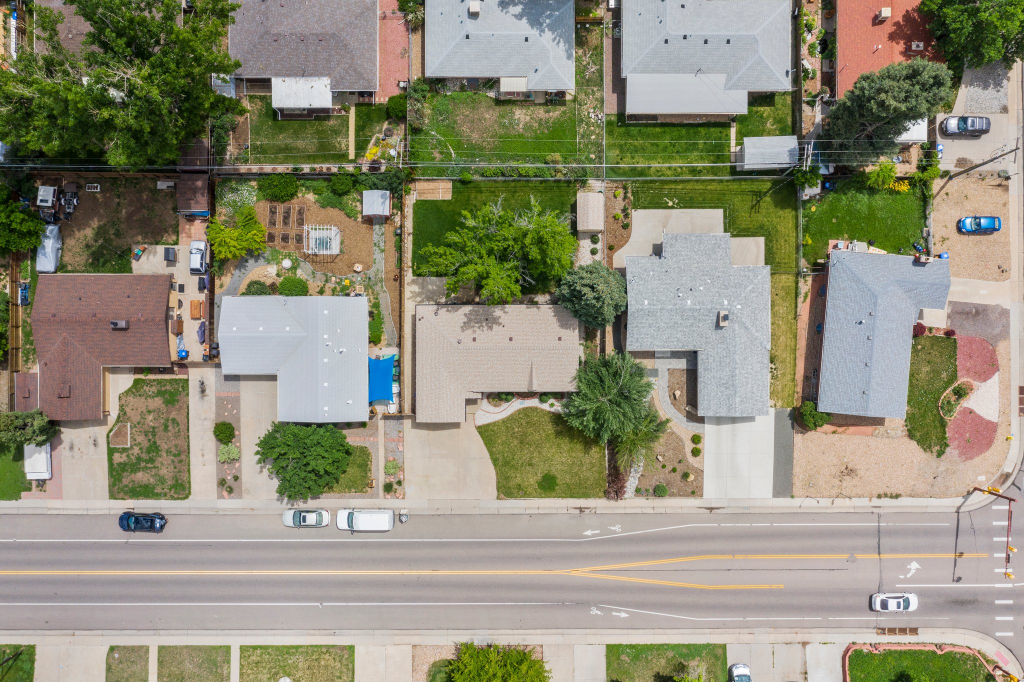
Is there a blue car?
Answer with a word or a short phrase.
Yes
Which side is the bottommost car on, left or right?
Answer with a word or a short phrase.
right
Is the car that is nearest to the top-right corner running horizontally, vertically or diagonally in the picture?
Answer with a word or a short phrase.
horizontally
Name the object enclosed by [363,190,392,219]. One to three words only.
shed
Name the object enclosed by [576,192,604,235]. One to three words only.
shed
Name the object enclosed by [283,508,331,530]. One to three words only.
car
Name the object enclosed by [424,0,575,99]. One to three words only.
house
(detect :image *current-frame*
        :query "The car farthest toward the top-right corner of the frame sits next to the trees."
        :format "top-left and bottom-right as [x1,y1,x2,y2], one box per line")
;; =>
[940,114,993,137]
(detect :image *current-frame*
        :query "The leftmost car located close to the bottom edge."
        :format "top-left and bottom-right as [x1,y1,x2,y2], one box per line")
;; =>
[729,660,752,682]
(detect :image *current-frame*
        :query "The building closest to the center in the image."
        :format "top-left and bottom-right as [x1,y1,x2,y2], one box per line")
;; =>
[415,304,584,423]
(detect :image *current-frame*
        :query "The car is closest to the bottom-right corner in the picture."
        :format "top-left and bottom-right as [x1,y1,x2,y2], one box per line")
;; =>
[870,590,916,613]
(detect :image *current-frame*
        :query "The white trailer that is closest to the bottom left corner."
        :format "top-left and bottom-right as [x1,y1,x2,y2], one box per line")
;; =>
[22,443,52,486]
